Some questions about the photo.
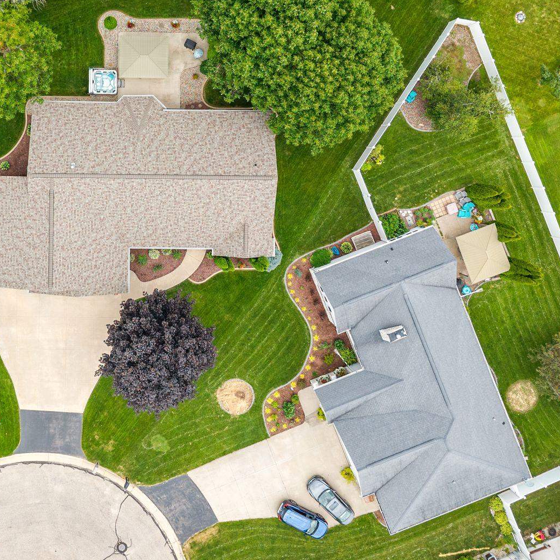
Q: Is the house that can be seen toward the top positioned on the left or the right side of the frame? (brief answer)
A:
left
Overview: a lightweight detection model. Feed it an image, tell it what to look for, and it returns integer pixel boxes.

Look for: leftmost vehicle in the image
[279,503,330,542]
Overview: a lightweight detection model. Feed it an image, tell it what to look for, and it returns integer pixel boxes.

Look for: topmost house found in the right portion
[310,224,534,536]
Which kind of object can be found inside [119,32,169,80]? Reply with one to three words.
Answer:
gazebo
